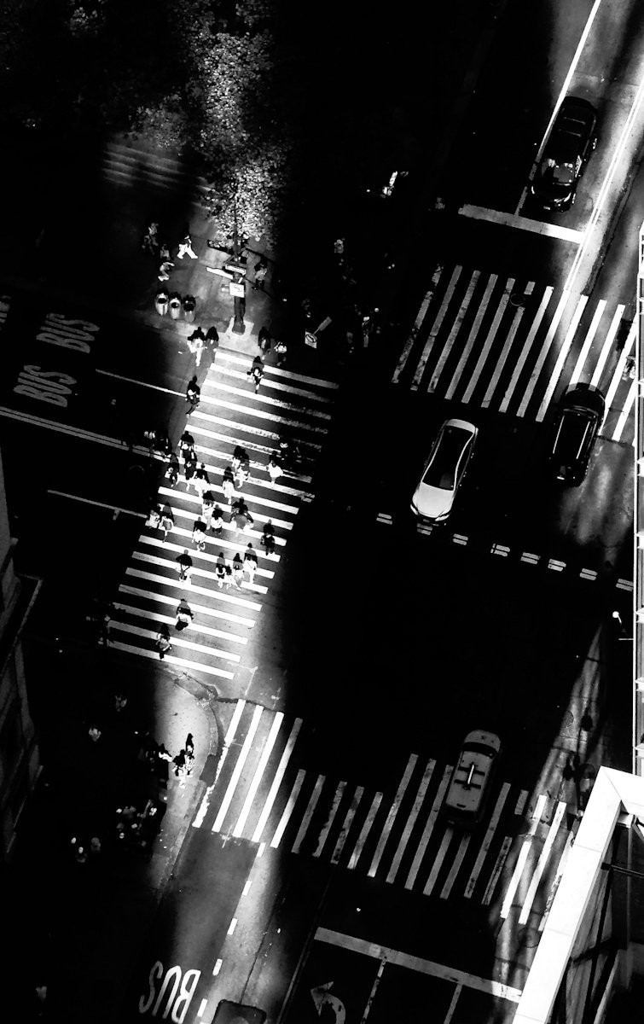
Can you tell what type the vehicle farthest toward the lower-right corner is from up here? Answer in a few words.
car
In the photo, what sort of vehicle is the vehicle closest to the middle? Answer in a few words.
automobile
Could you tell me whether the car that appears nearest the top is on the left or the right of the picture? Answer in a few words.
right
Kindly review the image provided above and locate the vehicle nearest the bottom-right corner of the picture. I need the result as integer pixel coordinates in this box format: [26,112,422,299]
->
[441,728,505,831]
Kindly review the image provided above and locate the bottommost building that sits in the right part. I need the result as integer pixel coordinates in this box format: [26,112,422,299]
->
[516,766,644,1024]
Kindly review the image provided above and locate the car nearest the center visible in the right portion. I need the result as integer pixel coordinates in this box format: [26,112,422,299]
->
[414,420,476,522]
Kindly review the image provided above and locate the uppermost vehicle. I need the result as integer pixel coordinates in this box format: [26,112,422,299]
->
[529,109,590,207]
